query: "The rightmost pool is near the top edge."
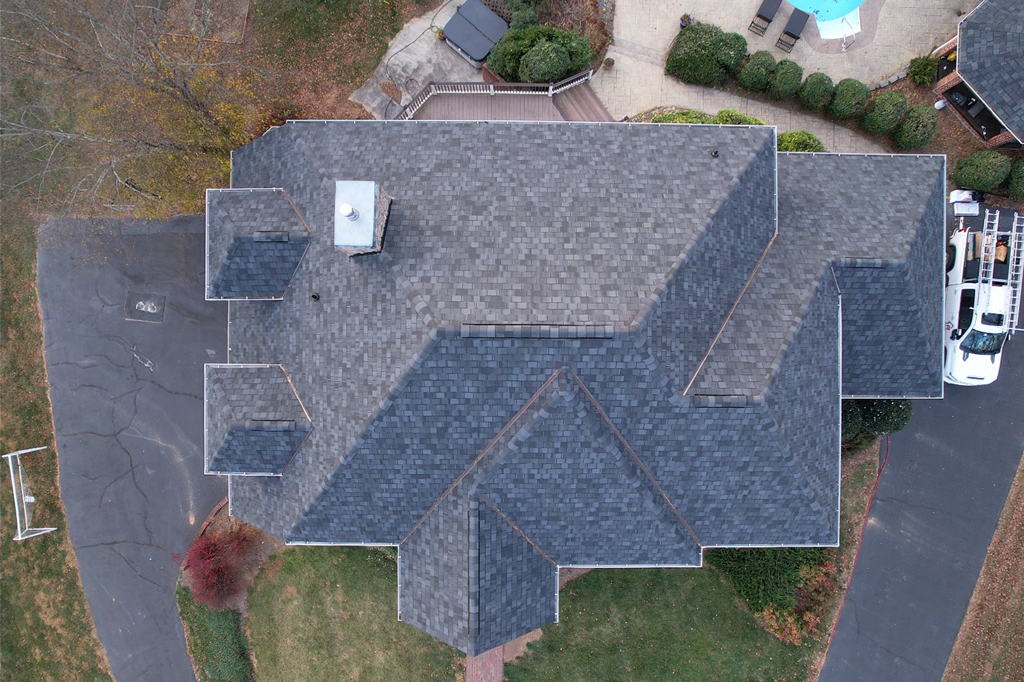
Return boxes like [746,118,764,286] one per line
[780,0,886,53]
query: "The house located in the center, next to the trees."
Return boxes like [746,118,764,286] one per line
[205,120,947,656]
